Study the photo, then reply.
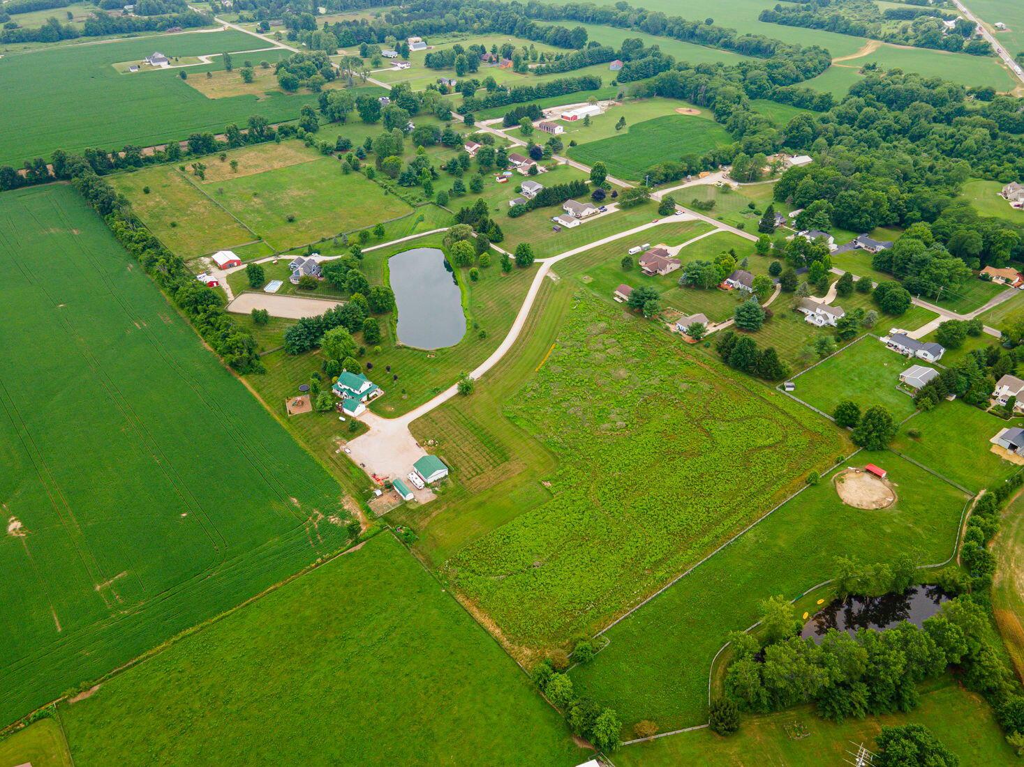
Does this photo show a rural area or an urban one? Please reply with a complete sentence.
The area is rural.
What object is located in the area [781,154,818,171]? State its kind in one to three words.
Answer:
building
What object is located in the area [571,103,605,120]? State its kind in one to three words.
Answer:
barn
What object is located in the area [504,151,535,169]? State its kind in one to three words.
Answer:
house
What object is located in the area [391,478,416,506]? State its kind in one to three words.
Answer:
shed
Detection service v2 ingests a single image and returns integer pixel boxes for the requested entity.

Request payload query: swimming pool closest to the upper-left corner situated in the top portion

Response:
[259,279,287,295]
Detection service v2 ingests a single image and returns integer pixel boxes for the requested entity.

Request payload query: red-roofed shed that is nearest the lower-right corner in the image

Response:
[863,460,891,482]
